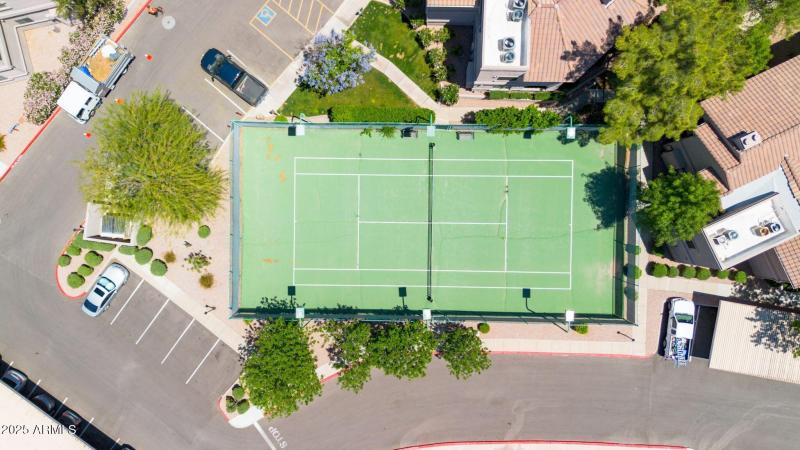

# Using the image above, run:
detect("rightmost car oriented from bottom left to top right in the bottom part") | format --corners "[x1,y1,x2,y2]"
[84,262,131,316]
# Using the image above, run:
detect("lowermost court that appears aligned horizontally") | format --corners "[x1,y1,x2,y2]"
[241,128,624,317]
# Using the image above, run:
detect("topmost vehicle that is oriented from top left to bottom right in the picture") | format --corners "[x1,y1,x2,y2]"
[201,48,272,110]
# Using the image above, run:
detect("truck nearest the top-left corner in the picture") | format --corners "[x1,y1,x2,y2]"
[50,36,131,124]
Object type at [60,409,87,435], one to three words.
car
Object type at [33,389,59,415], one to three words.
car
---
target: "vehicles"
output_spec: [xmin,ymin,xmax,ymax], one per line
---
[84,262,131,316]
[33,389,59,415]
[4,367,33,395]
[201,48,272,110]
[662,296,697,362]
[60,409,87,435]
[50,36,131,124]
